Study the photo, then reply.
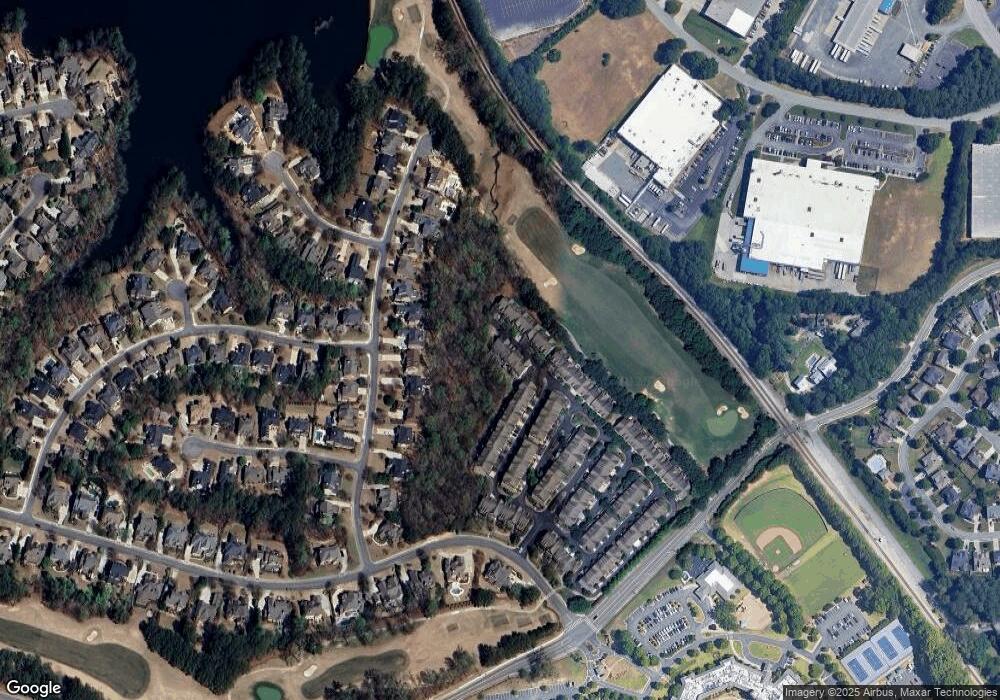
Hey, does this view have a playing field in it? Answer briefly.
Yes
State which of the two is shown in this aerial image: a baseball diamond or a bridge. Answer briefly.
baseball diamond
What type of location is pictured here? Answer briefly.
residential area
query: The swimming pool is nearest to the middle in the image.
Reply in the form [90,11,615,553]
[313,428,326,444]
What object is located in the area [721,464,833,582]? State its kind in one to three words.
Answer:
baseball field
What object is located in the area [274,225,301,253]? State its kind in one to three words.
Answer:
house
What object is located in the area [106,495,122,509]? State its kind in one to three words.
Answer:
swimming pool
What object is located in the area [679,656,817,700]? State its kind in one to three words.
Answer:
building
